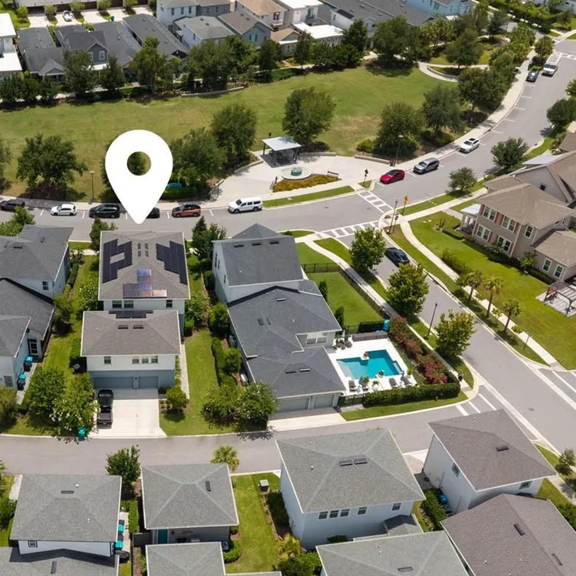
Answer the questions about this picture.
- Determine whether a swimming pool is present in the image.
Yes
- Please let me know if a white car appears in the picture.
Yes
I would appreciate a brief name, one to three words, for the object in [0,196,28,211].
car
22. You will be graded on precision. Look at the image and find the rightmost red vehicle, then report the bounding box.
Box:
[379,168,406,182]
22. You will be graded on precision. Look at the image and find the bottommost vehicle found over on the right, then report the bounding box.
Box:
[382,247,412,266]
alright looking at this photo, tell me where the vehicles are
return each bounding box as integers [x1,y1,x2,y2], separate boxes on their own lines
[50,203,77,216]
[95,389,114,427]
[382,247,412,266]
[456,137,482,153]
[379,168,406,182]
[88,202,120,217]
[526,70,538,80]
[543,57,557,72]
[228,196,262,213]
[0,196,28,211]
[412,157,441,172]
[64,12,72,21]
[172,204,200,217]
